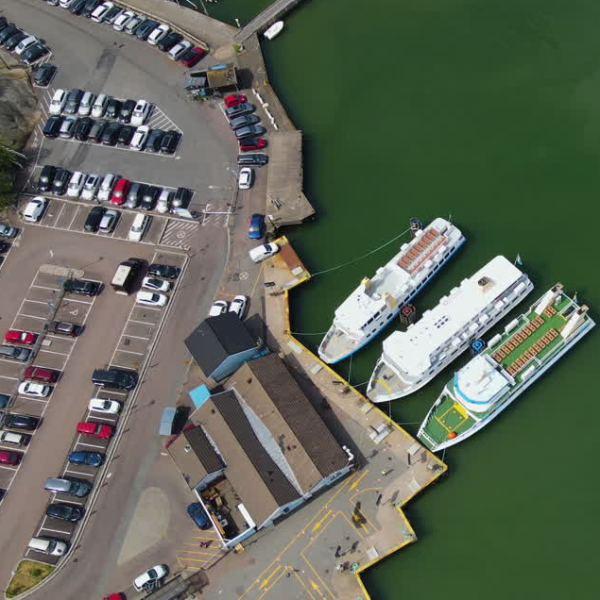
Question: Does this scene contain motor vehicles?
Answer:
Yes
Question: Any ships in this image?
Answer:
Yes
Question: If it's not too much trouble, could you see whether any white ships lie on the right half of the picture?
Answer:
Yes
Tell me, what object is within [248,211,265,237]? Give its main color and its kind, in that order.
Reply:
blue car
